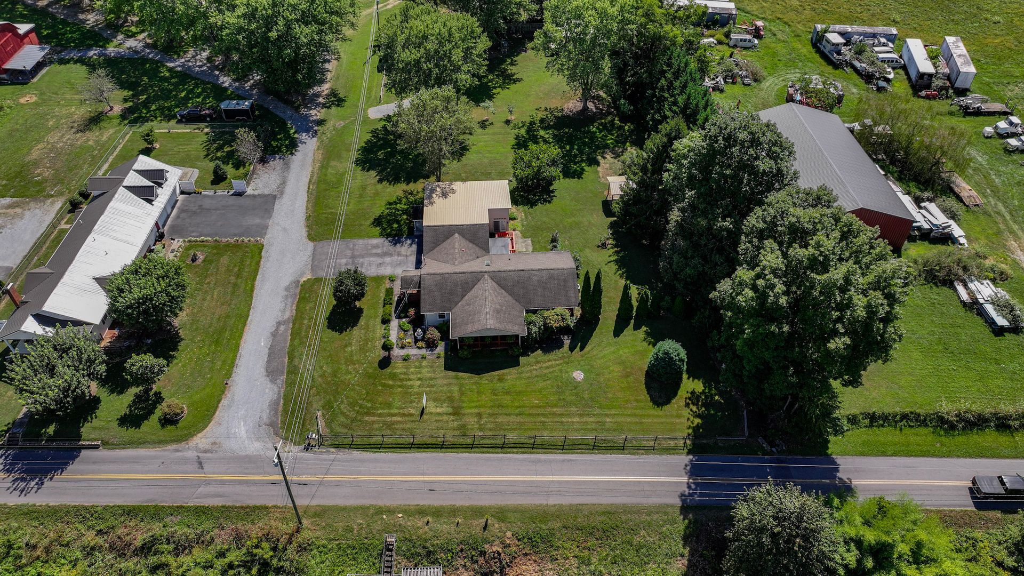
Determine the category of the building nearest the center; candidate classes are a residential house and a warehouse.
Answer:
residential house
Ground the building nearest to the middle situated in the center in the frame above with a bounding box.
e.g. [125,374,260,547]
[401,180,578,354]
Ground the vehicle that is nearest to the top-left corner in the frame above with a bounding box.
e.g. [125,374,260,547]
[179,106,220,121]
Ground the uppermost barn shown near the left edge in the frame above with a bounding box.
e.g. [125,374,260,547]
[0,22,56,95]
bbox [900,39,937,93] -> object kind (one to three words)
trailer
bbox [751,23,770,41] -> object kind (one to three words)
work vehicle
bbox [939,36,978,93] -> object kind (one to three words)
trailer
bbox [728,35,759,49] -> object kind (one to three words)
vehicle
